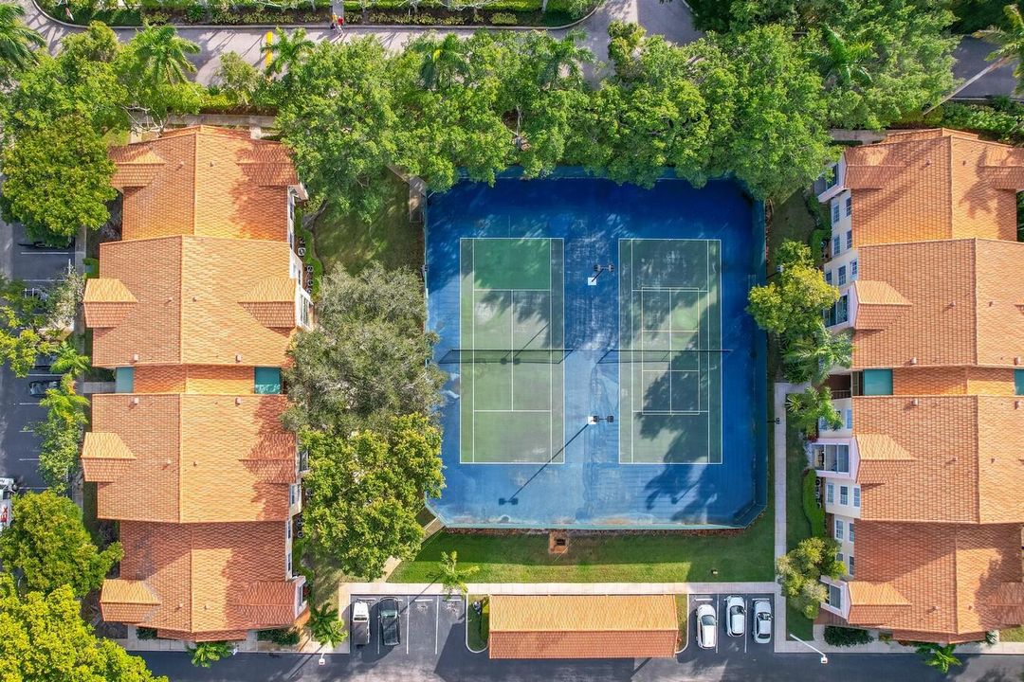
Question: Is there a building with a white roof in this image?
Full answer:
No, I can see no building with a white roof in this picture.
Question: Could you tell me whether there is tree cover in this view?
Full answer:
Yes, tree cover can be seen from above here.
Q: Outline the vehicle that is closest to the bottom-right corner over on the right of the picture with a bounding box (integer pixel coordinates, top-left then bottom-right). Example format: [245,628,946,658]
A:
[750,599,775,644]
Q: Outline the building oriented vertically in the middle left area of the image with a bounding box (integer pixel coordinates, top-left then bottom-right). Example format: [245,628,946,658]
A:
[74,124,315,642]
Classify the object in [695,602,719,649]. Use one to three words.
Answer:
car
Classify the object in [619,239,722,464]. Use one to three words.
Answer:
tennis court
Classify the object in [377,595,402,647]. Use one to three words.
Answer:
car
